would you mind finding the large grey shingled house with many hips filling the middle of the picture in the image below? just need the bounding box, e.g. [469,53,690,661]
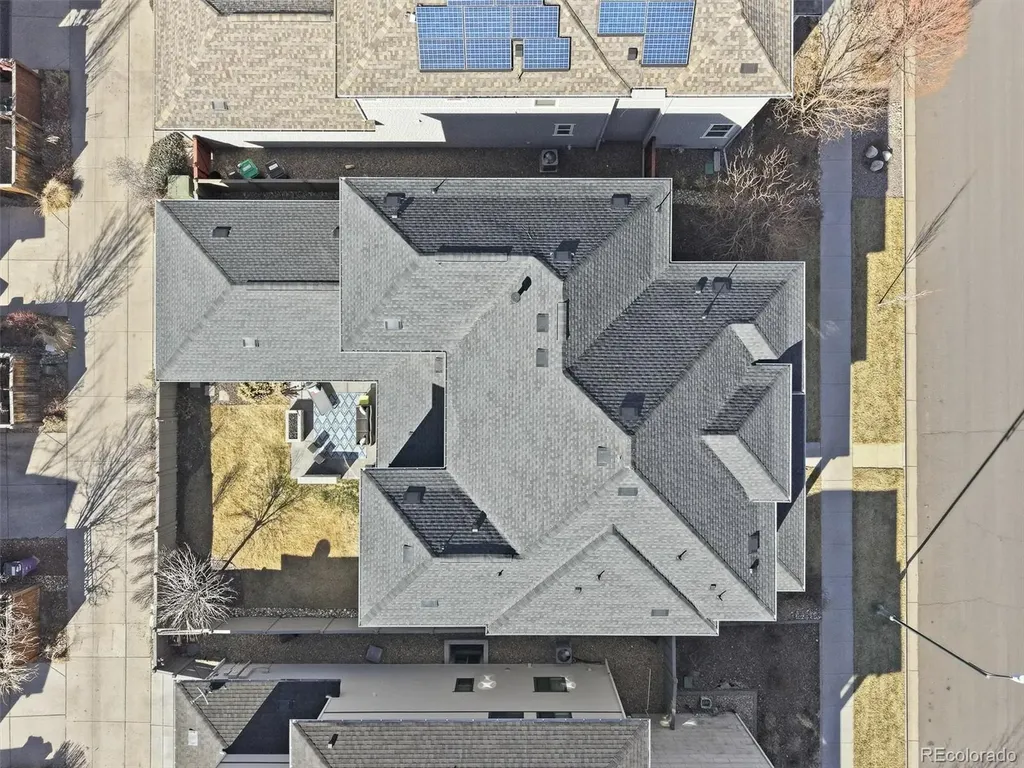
[155,177,806,636]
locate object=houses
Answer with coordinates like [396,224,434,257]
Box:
[155,177,806,636]
[154,0,835,169]
[174,661,775,768]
